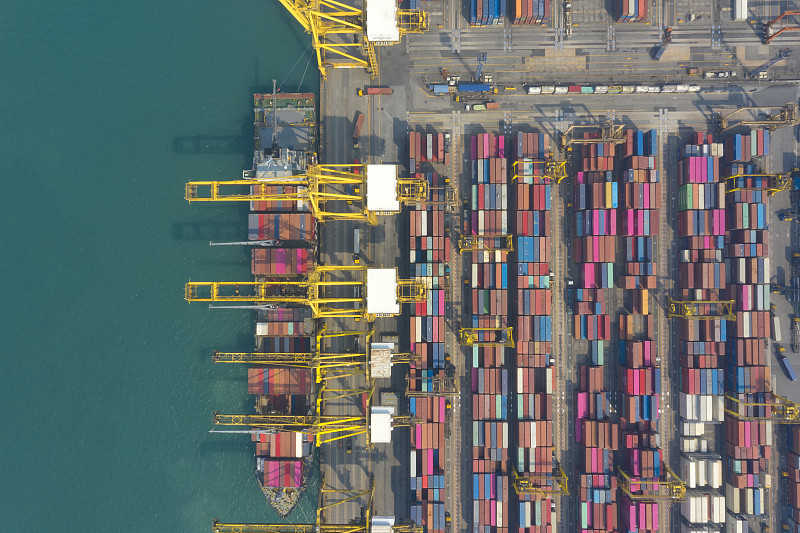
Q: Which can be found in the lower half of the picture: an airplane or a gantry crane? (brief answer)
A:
gantry crane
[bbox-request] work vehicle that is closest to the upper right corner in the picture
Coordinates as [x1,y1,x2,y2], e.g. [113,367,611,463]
[743,45,800,82]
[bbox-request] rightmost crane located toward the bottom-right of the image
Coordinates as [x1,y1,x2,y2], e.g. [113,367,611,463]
[723,394,795,420]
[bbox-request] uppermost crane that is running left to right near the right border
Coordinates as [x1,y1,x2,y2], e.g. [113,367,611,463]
[714,106,799,140]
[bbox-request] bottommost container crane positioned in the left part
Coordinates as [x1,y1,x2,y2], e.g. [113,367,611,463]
[209,474,421,533]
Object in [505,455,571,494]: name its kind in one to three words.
crane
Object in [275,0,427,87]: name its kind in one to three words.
container crane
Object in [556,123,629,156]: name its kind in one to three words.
crane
